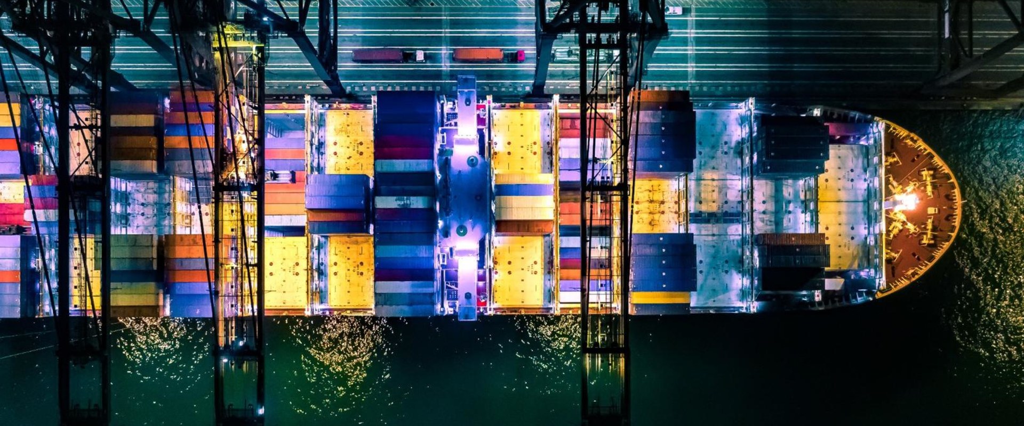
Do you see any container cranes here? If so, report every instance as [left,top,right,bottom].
[520,0,689,426]
[0,0,214,426]
[907,0,1024,97]
[142,0,357,426]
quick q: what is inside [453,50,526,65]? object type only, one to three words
vehicle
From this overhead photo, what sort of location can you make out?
port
